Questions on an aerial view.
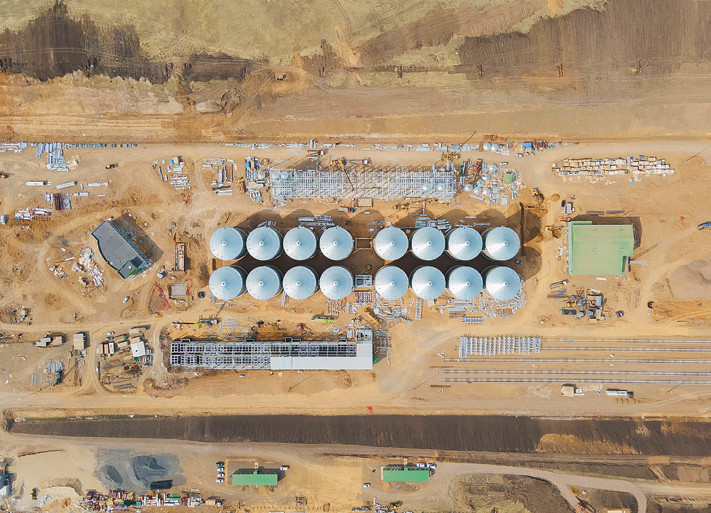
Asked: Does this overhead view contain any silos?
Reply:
Yes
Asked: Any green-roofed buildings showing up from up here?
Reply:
Yes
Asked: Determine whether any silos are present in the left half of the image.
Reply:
Yes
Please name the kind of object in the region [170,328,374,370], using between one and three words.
building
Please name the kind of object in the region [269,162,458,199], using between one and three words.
building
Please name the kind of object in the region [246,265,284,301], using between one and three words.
silo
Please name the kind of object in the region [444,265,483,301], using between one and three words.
silo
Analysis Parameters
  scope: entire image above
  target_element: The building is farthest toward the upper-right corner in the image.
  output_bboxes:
[566,221,637,276]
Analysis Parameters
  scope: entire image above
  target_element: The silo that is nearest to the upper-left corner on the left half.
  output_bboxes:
[209,226,248,261]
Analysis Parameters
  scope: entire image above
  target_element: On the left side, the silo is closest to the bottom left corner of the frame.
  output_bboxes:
[209,265,248,301]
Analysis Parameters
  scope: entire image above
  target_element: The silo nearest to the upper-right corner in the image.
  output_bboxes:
[481,226,520,261]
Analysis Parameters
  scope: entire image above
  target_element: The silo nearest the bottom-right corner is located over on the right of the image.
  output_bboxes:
[480,265,520,301]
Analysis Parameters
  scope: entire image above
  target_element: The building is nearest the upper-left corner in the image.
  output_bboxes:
[92,219,156,281]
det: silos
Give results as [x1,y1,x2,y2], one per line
[319,226,354,261]
[408,265,446,301]
[209,226,248,261]
[319,265,354,301]
[373,265,408,301]
[283,265,319,301]
[209,265,248,301]
[408,226,446,261]
[444,226,483,261]
[373,226,408,261]
[246,265,284,301]
[481,226,520,261]
[246,226,283,261]
[283,226,319,261]
[480,265,520,301]
[444,265,483,301]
